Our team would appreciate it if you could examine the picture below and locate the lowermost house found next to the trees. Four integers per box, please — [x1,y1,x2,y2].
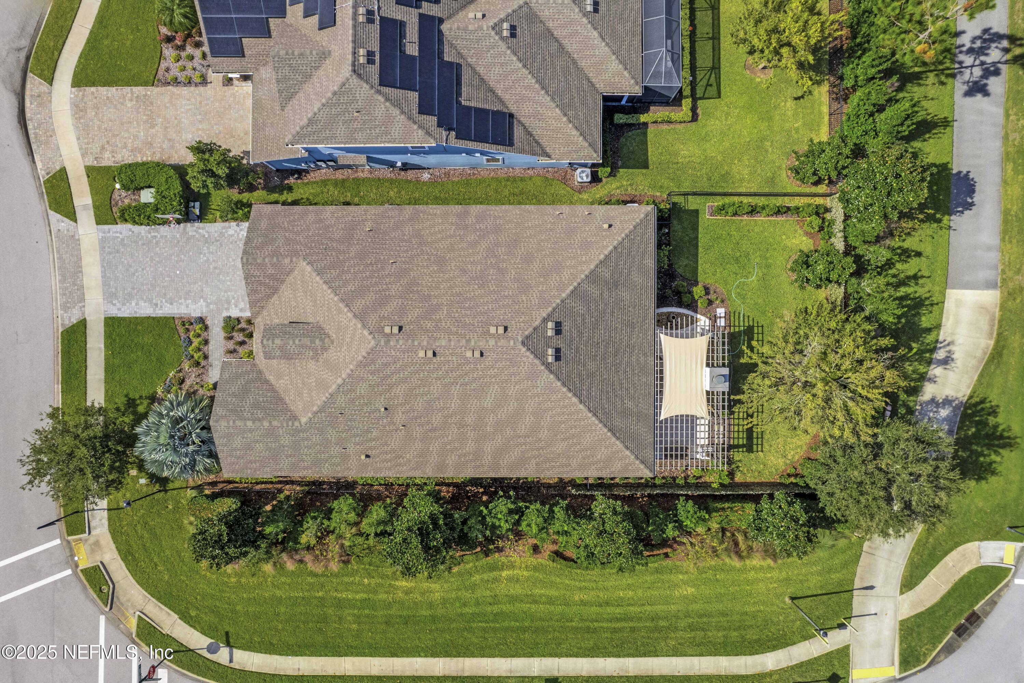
[209,205,658,478]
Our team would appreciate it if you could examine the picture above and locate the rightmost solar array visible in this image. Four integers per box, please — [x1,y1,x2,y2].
[380,0,509,145]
